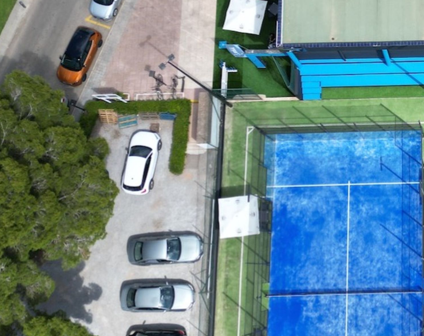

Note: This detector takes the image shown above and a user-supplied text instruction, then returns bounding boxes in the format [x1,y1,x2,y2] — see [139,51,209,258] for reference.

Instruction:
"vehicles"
[119,130,161,196]
[119,279,198,316]
[54,26,102,88]
[127,233,205,268]
[129,328,187,336]
[86,0,118,21]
